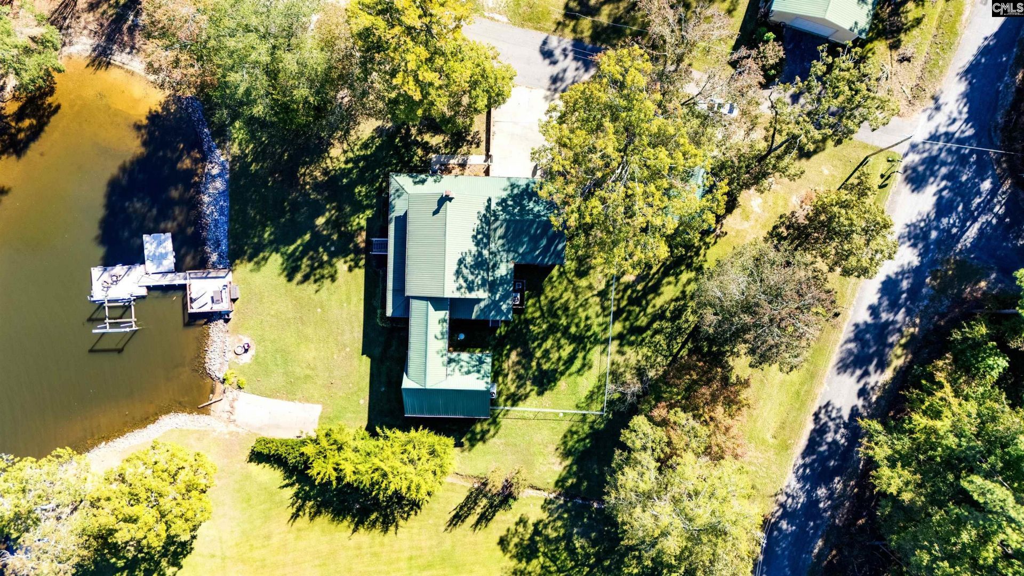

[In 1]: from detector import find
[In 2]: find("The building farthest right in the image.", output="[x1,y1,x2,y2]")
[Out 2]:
[768,0,872,46]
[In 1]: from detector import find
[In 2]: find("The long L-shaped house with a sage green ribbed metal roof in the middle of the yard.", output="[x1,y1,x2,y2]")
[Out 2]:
[385,172,565,418]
